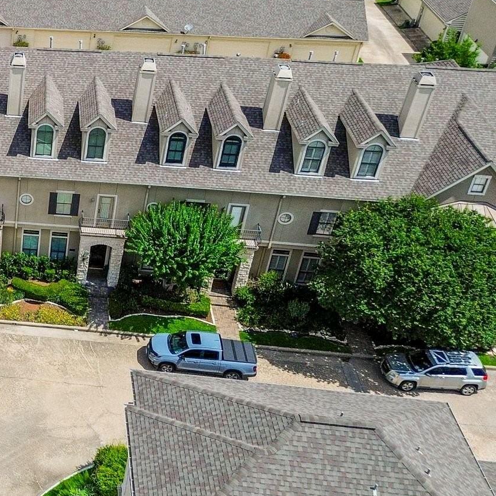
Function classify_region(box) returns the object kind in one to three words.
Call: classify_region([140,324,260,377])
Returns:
truck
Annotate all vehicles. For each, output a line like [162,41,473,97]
[140,324,260,377]
[375,343,496,396]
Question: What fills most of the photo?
buildings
